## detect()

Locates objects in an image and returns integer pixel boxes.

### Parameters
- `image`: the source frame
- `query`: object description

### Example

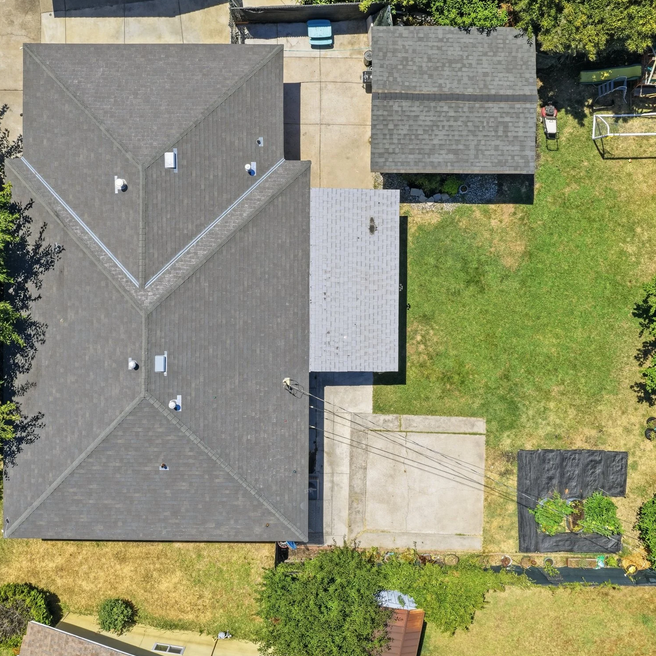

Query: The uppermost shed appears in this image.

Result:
[371,26,540,175]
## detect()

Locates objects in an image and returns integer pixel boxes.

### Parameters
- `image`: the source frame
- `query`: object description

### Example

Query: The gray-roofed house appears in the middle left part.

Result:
[0,43,312,542]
